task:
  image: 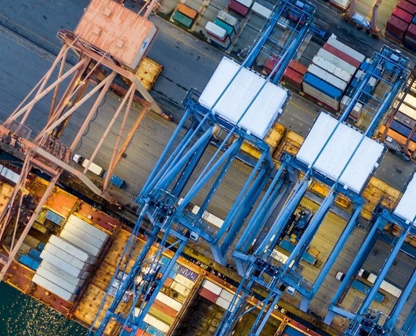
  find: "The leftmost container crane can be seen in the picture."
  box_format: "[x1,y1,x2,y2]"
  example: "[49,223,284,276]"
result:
[0,0,182,283]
